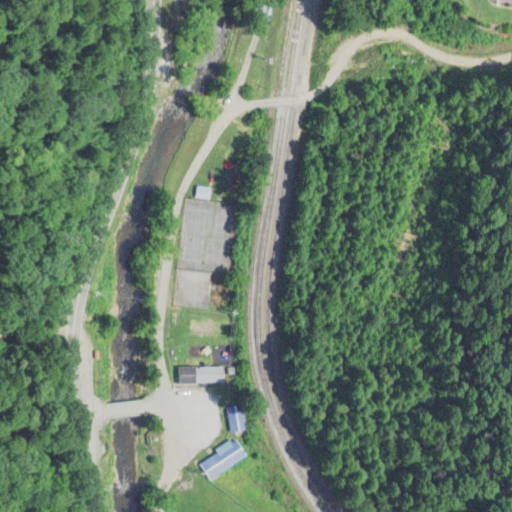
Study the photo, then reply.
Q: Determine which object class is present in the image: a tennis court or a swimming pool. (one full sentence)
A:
The image shows a tennis court.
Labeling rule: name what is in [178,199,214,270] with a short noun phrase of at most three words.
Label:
tennis court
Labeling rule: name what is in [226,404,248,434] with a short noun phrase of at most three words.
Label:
building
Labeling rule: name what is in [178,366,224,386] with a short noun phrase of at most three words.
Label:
building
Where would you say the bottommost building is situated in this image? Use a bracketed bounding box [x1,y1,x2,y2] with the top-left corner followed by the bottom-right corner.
[199,440,248,480]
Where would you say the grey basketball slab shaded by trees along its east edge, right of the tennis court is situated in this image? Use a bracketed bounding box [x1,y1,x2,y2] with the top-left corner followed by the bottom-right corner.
[204,201,236,272]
